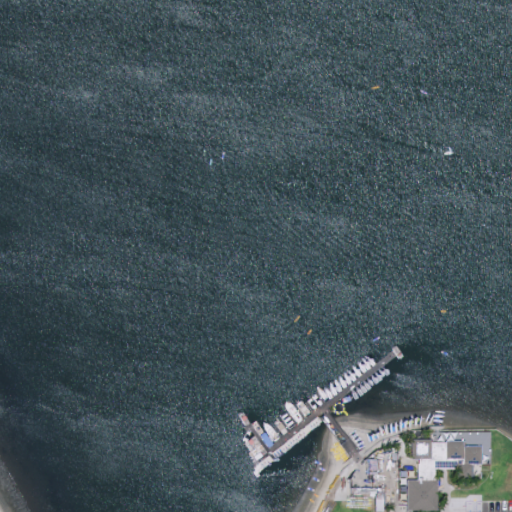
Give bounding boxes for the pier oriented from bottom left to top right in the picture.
[253,352,398,465]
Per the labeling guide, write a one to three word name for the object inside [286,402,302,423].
boat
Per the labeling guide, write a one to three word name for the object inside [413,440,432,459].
building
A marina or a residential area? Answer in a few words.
marina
